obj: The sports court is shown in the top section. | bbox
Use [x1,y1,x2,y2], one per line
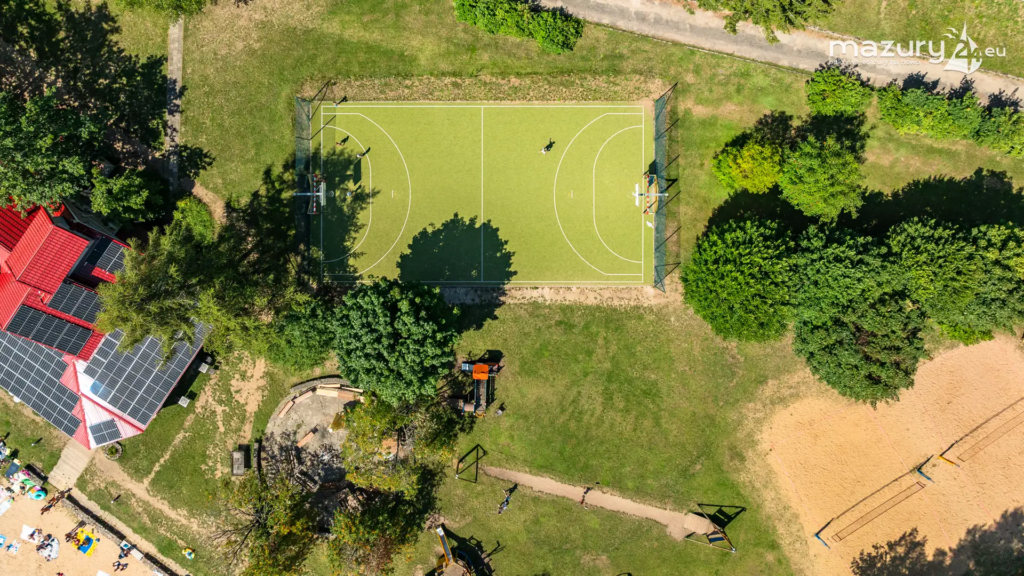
[310,100,656,288]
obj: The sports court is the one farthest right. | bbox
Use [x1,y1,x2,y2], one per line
[915,347,1024,549]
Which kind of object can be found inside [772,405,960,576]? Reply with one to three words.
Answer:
sports court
